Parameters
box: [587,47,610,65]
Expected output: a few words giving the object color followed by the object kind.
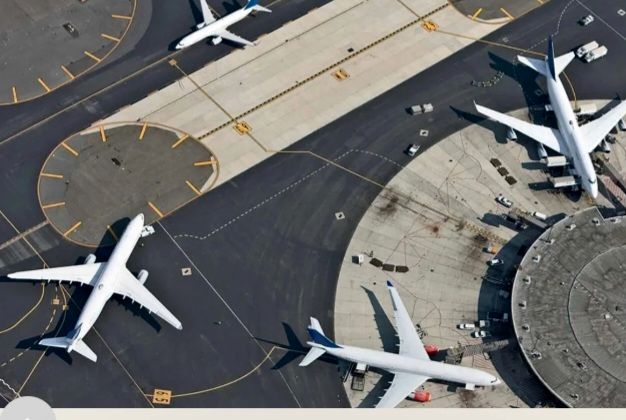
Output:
white vehicle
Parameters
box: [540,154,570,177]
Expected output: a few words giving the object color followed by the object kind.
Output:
white truck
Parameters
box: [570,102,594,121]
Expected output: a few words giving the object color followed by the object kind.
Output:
white vehicle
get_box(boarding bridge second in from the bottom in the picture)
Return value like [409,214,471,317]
[517,212,549,237]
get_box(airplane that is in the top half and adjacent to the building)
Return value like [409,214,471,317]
[474,34,626,202]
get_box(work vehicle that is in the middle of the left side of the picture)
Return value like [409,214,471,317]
[141,225,158,238]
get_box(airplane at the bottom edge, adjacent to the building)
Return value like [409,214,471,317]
[300,276,499,420]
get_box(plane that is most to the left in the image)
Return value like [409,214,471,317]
[9,213,182,361]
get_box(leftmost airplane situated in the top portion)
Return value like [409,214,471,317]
[175,0,269,49]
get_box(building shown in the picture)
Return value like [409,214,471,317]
[509,205,626,420]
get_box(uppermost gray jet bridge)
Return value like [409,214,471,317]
[587,152,626,197]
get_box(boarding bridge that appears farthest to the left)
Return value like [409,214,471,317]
[452,337,520,367]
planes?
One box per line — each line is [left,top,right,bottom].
[9,213,182,361]
[300,276,499,420]
[474,34,626,202]
[175,0,269,49]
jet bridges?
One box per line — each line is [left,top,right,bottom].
[517,212,549,237]
[452,337,520,367]
[587,152,626,197]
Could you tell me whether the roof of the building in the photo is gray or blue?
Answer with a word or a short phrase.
gray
